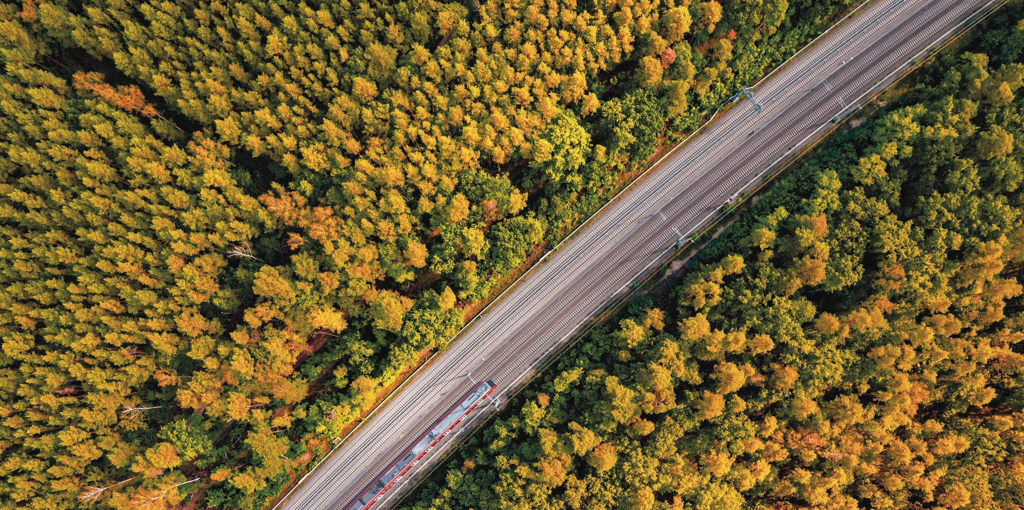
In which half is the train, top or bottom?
bottom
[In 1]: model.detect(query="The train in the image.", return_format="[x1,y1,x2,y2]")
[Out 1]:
[350,379,498,510]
